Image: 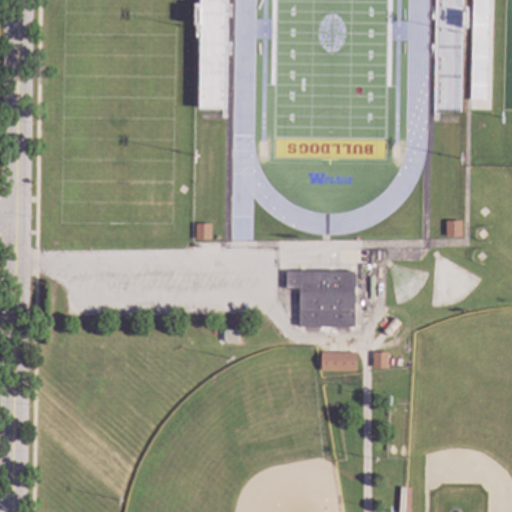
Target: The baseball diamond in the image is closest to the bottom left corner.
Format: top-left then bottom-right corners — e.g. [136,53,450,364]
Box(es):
[122,346,344,512]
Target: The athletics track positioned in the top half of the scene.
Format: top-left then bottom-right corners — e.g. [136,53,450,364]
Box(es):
[234,0,430,241]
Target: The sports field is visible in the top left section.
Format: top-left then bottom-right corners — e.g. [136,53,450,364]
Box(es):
[43,0,194,248]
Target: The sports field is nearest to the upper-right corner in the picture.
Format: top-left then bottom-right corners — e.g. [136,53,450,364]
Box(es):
[257,0,408,213]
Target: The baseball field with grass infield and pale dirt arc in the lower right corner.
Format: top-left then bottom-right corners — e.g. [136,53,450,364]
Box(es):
[407,308,512,512]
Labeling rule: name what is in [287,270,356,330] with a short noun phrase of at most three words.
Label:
building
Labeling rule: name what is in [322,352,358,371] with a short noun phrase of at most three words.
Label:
building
